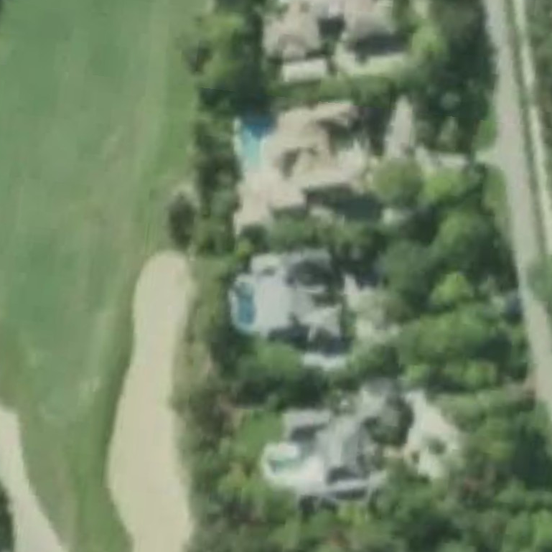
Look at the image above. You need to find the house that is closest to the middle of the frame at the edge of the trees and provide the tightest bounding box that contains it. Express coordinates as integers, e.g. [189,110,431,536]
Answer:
[254,247,347,340]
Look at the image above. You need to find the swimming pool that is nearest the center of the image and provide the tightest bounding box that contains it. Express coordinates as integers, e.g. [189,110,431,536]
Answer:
[233,277,258,329]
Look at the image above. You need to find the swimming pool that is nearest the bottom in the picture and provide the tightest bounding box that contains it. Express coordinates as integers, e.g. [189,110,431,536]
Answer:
[270,456,304,473]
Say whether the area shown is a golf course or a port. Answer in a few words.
golf course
